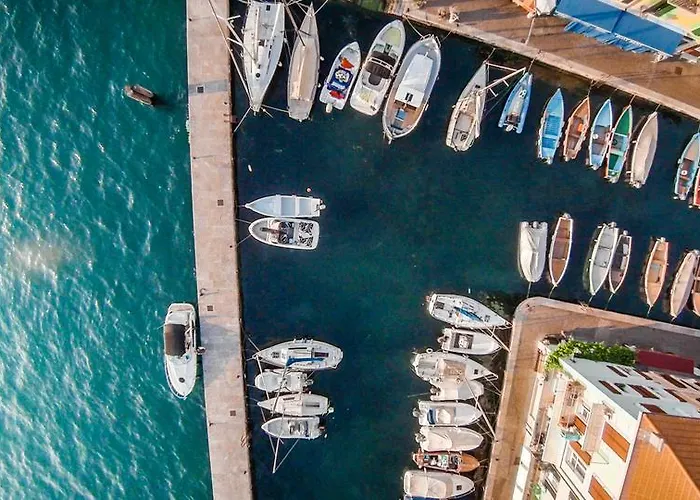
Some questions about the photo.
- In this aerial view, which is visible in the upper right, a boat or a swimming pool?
boat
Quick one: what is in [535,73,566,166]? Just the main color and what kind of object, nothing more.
blue boat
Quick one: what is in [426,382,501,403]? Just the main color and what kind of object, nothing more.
white boat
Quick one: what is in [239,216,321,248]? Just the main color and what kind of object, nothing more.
white boat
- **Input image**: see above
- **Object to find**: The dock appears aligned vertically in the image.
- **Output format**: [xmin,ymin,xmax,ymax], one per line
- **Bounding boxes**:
[186,0,257,500]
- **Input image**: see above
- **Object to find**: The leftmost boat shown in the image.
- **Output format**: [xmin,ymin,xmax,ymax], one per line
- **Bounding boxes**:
[136,294,206,404]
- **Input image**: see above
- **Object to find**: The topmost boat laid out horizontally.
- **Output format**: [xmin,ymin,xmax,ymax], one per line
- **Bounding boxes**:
[239,194,324,220]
